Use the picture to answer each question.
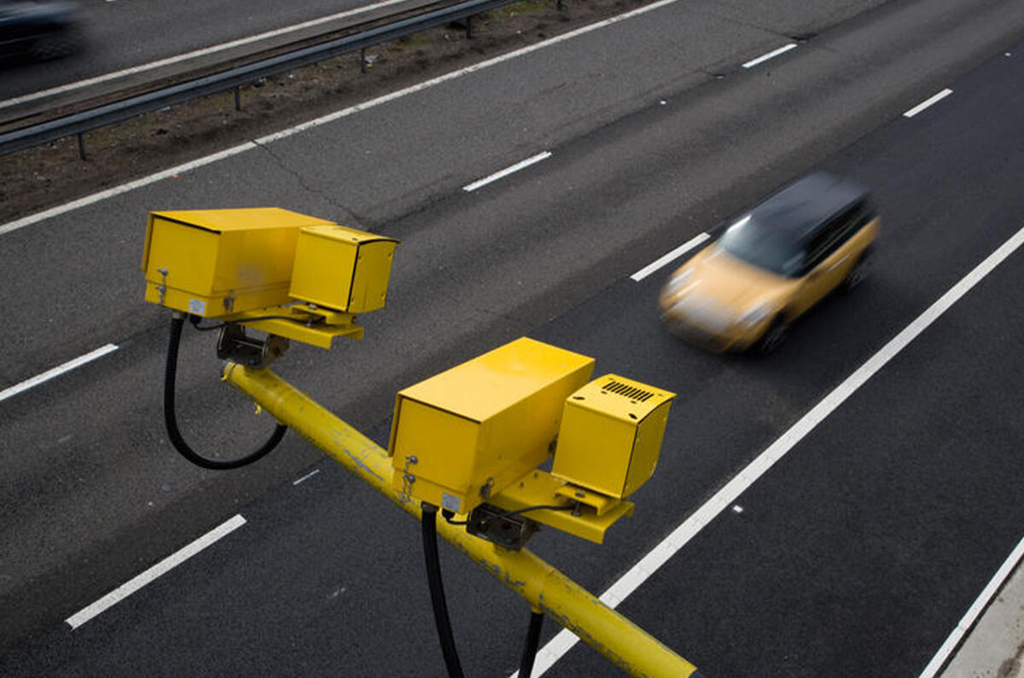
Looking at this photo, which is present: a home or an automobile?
automobile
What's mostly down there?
paved ground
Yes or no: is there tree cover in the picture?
No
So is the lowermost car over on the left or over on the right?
right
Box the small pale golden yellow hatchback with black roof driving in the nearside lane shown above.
[656,167,884,357]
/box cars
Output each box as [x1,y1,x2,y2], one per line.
[0,0,84,62]
[656,167,884,357]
